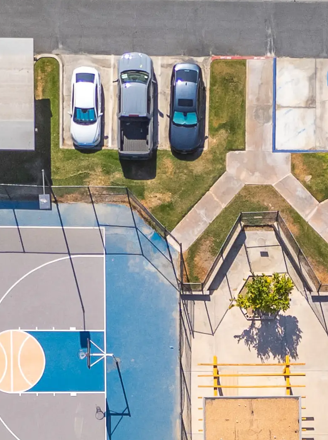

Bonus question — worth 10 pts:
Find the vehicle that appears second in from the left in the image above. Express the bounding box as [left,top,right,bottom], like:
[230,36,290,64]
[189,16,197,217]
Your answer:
[114,53,157,163]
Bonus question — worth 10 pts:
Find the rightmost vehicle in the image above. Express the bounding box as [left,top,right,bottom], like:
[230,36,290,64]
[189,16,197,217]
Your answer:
[166,64,207,154]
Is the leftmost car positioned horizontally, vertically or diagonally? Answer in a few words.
vertically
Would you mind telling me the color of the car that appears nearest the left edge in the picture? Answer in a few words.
white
